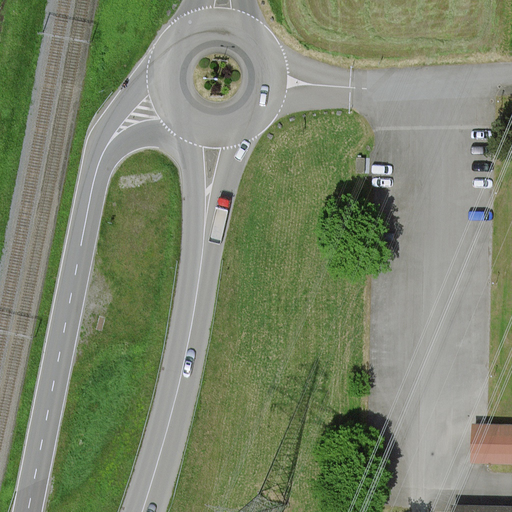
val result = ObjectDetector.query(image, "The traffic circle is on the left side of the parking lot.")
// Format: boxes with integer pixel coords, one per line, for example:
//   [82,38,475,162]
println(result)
[146,7,288,149]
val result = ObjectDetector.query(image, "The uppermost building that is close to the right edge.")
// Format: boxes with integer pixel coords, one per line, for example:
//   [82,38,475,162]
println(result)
[470,423,512,464]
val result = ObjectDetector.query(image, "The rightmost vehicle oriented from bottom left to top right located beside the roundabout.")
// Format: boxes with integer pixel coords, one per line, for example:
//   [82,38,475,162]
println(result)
[234,138,251,160]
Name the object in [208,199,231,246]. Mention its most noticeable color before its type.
white truck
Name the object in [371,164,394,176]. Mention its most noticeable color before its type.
white vehicle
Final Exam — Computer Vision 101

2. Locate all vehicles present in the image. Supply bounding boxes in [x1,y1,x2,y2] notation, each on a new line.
[258,84,270,107]
[144,502,156,512]
[371,164,394,176]
[208,199,231,246]
[468,209,494,220]
[234,138,251,160]
[472,161,494,172]
[473,178,494,188]
[183,349,196,377]
[470,145,492,156]
[372,176,394,188]
[470,130,492,140]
